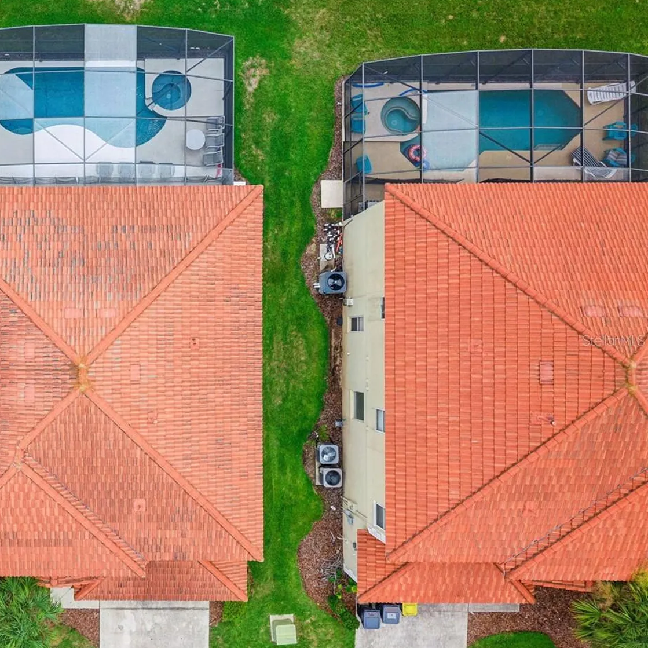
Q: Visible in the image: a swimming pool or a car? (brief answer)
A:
swimming pool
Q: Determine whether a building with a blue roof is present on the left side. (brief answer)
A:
No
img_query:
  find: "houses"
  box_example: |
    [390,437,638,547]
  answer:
[0,182,267,605]
[341,179,648,606]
